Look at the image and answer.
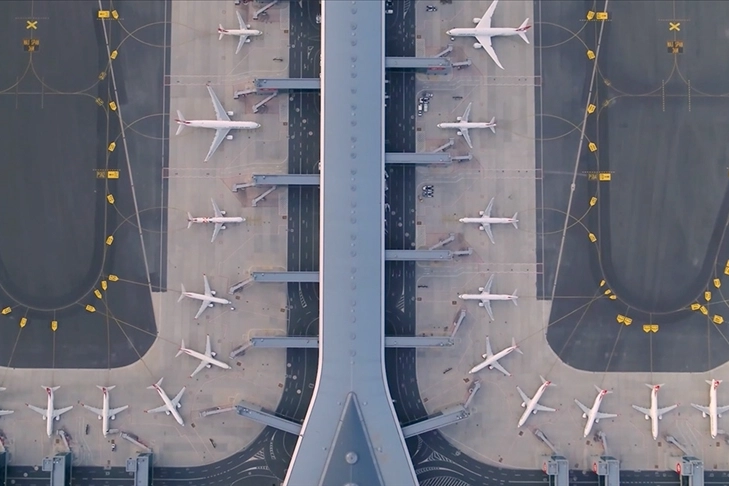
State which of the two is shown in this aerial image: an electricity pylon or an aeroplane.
aeroplane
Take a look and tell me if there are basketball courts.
No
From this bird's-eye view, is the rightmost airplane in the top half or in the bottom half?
bottom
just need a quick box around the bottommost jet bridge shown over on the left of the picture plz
[200,399,301,434]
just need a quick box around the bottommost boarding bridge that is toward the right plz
[402,381,479,438]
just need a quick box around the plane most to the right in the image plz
[691,379,729,439]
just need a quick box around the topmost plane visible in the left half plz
[217,11,263,53]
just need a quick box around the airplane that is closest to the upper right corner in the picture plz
[446,0,532,68]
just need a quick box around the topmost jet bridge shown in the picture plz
[235,0,321,23]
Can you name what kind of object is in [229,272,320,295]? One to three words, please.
jet bridge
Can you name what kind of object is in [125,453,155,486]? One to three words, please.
building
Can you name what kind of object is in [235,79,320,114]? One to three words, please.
jet bridge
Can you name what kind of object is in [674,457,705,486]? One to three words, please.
building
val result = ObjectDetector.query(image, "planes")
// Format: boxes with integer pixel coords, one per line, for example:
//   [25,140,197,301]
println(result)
[446,0,532,68]
[437,102,497,148]
[217,11,263,53]
[458,274,519,320]
[82,386,128,436]
[187,197,246,243]
[691,379,729,439]
[26,386,73,438]
[633,387,679,440]
[147,379,186,425]
[517,377,556,427]
[177,335,231,379]
[458,198,519,243]
[575,387,618,437]
[173,84,261,161]
[468,337,520,378]
[182,275,232,319]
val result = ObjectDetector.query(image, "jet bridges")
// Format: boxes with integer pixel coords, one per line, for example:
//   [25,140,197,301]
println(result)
[385,137,473,166]
[234,174,320,208]
[229,337,319,359]
[385,312,466,347]
[229,272,320,295]
[402,381,479,438]
[385,233,473,260]
[385,44,473,75]
[235,79,320,114]
[235,0,321,23]
[200,399,301,434]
